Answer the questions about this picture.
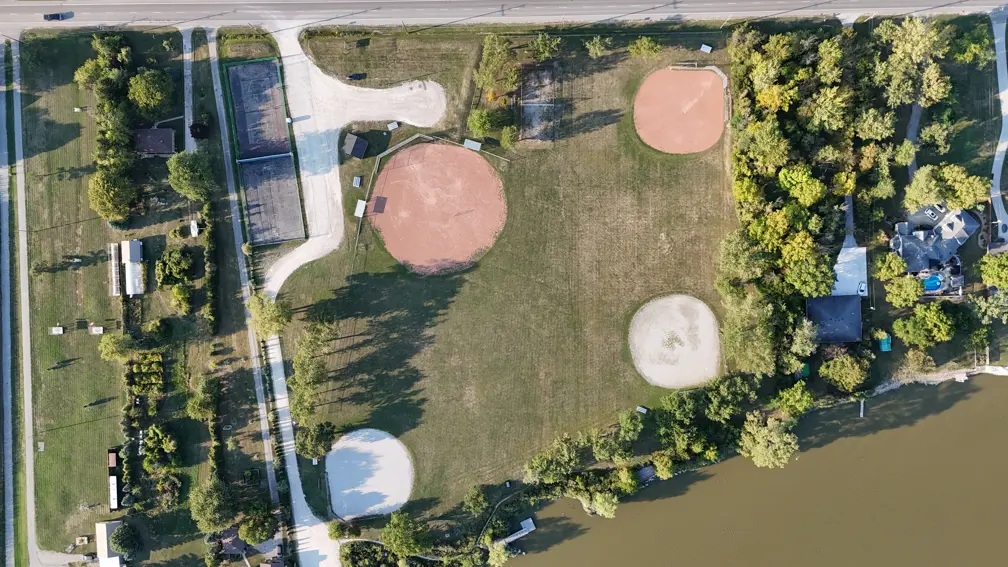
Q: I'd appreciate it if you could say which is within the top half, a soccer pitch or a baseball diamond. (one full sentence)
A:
The one visible within the top half is a baseball diamond.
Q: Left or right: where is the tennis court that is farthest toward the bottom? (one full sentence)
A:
The tennis court that is farthest toward the bottom sits on the left side.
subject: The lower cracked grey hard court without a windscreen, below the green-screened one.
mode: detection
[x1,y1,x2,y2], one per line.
[239,156,304,244]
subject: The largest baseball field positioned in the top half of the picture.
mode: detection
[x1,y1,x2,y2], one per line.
[369,142,507,276]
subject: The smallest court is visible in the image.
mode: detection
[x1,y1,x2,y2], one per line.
[520,61,556,144]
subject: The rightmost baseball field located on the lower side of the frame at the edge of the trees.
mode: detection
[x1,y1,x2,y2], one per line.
[629,293,721,389]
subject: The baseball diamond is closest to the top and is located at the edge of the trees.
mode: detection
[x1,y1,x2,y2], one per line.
[634,69,725,155]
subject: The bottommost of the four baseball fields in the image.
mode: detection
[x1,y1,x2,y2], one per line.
[325,428,413,520]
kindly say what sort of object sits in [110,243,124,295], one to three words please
greenhouse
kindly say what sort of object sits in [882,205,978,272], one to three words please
house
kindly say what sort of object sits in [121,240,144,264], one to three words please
building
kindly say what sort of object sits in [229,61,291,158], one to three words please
tennis court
